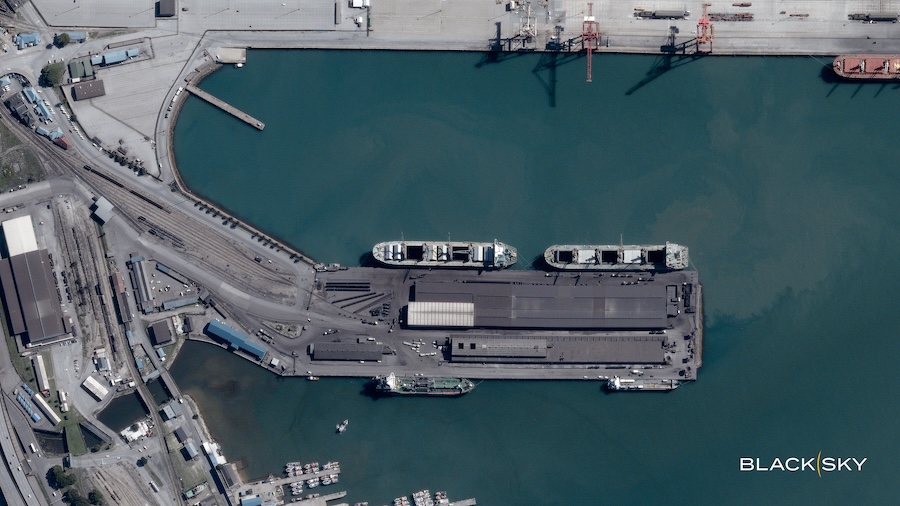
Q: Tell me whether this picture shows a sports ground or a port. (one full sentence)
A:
It's a port.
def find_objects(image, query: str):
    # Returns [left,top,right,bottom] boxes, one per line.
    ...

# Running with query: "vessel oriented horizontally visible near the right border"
[808,54,900,81]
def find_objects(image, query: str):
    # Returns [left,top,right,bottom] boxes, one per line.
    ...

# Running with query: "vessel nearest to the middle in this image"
[361,233,527,269]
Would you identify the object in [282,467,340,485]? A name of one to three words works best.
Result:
pier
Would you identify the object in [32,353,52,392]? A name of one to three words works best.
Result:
shed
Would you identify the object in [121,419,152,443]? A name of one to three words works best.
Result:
building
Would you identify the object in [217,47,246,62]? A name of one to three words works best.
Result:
pier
